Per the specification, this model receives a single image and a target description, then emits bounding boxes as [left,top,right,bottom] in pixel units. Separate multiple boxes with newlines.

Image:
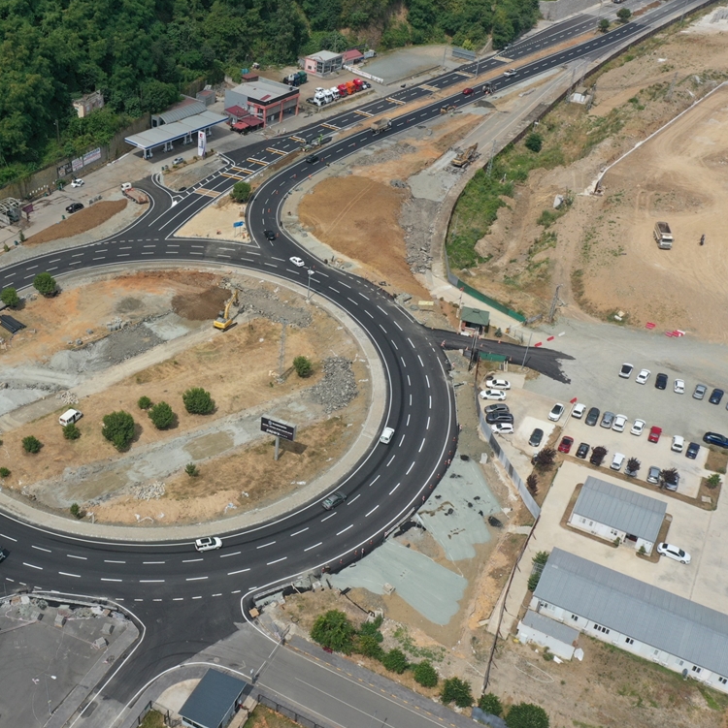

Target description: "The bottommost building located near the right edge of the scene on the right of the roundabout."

[531,549,728,695]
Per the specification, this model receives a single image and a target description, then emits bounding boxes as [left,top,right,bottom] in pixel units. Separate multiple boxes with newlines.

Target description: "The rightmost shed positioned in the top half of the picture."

[563,85,593,105]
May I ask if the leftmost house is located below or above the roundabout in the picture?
above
